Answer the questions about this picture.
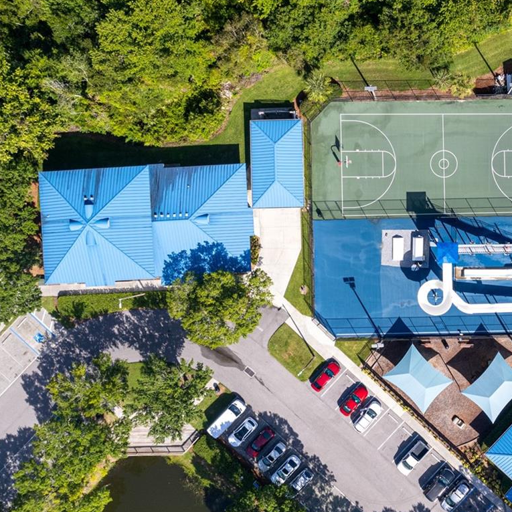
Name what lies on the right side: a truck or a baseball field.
truck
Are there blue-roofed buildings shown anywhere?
Yes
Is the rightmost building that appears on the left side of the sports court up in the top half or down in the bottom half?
top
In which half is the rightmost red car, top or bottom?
bottom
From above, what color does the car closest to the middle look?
red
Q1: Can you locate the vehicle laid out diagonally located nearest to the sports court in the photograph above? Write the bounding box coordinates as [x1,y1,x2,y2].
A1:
[311,362,341,393]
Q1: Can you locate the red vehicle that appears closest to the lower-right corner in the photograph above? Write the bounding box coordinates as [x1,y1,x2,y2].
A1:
[340,386,369,417]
